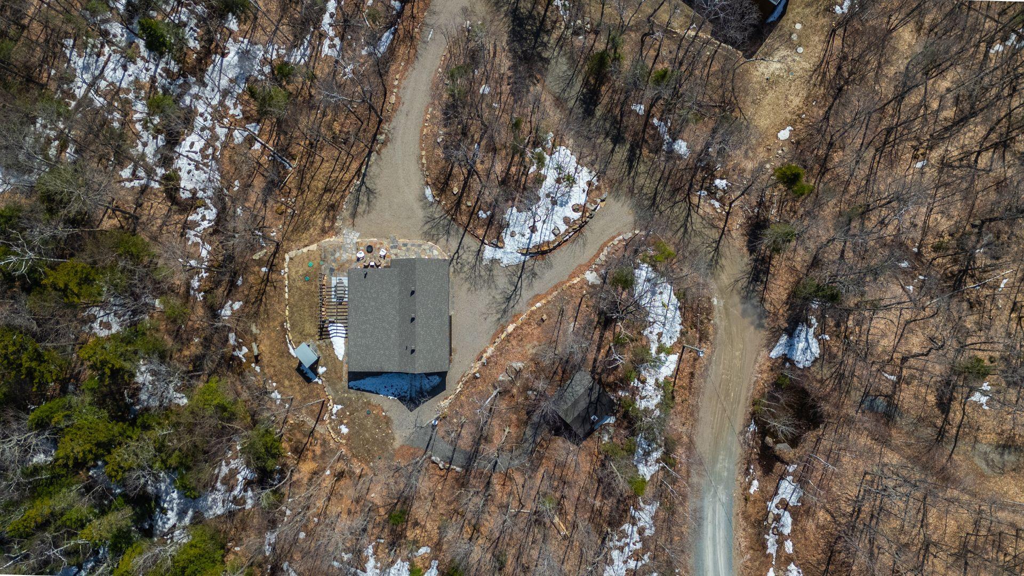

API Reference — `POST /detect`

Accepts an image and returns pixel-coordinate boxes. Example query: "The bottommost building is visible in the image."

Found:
[546,370,614,436]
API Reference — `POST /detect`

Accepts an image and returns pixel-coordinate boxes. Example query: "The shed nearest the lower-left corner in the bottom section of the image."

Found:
[294,342,323,367]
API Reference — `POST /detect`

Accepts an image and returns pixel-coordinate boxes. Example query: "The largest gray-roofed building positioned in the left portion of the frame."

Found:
[347,257,450,377]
